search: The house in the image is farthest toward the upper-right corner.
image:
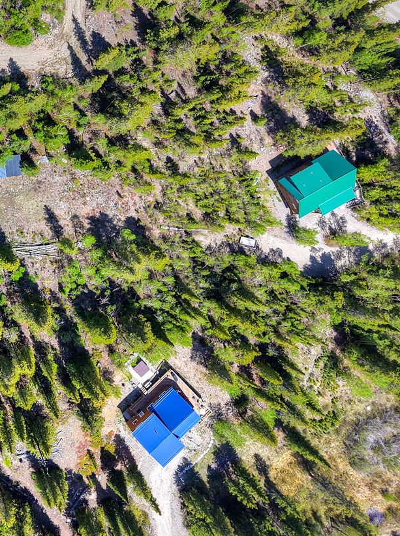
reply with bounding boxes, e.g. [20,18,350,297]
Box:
[266,146,366,218]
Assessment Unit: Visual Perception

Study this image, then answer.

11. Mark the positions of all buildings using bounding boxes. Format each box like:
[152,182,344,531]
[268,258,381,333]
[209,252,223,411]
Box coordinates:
[123,368,213,468]
[0,154,21,179]
[266,146,366,218]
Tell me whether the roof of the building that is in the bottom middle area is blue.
Yes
